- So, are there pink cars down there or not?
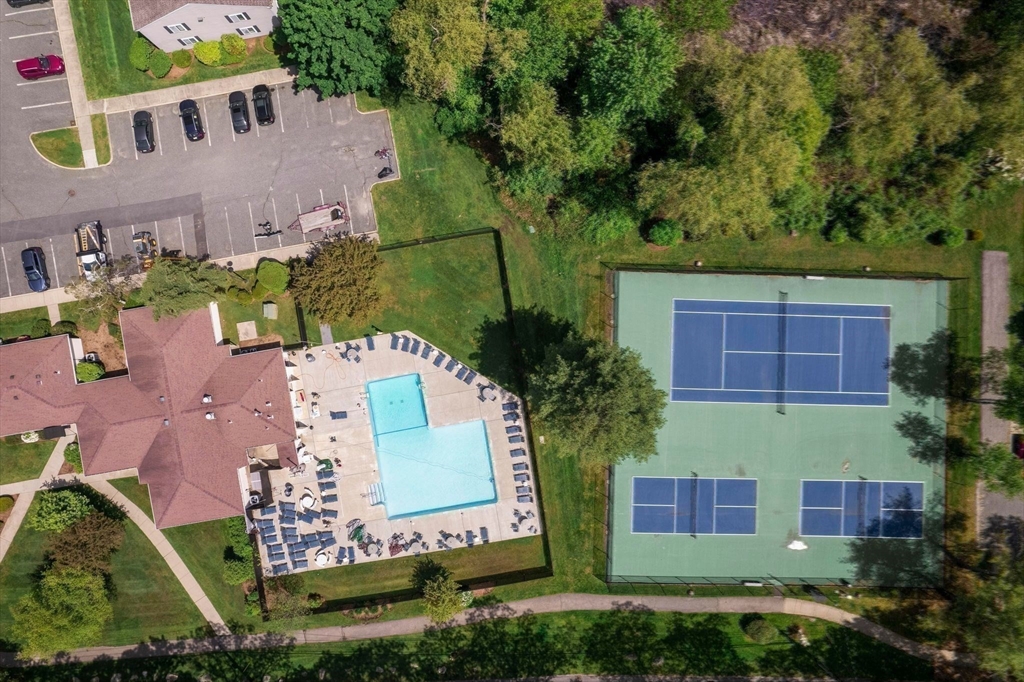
Yes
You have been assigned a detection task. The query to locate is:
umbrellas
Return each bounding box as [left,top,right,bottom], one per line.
[389,538,402,557]
[357,544,368,554]
[345,519,363,543]
[317,460,333,472]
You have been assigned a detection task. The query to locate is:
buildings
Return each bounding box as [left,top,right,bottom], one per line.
[129,0,283,53]
[0,300,309,529]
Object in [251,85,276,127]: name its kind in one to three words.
car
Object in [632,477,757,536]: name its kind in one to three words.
sports court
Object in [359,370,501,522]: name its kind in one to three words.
swimming pool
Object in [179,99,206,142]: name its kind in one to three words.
car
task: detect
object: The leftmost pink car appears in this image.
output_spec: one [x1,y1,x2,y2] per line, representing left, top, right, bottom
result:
[18,55,65,81]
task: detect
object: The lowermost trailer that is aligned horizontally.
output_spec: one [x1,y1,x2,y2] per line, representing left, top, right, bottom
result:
[287,203,352,233]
